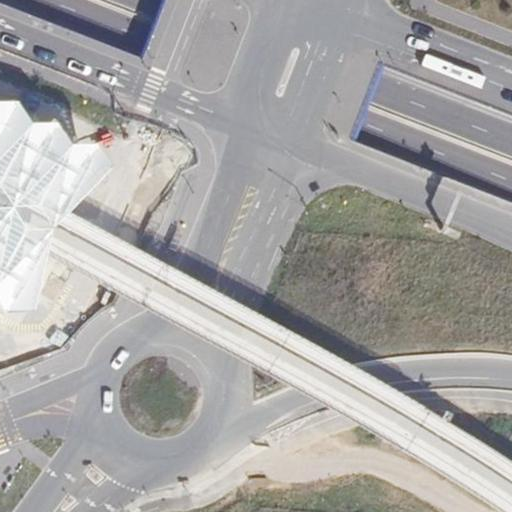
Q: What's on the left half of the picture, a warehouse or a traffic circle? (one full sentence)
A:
The one visible on the left half of the picture is a traffic circle.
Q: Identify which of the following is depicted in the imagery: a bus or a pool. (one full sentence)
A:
I can see a bus in this picture.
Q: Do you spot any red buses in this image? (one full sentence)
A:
No, there is no red bus in the image.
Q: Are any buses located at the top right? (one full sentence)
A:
Yes, there is a bus at the top right.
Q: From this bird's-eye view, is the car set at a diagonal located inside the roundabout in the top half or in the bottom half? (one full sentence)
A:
It is in the bottom half that the car set at a diagonal located inside the roundabout appears.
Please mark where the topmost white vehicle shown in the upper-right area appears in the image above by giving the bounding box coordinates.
[407,36,430,51]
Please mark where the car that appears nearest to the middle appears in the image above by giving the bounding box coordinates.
[162,220,177,243]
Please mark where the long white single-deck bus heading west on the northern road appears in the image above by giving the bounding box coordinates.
[421,52,485,88]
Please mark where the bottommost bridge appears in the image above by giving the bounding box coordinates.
[50,211,512,512]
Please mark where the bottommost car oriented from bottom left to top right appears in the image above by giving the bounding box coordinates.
[110,348,130,370]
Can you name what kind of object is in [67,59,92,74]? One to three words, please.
car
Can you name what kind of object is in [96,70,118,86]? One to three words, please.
car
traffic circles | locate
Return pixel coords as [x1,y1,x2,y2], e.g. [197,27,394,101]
[87,324,233,470]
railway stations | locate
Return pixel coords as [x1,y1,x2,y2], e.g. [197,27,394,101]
[0,98,112,309]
